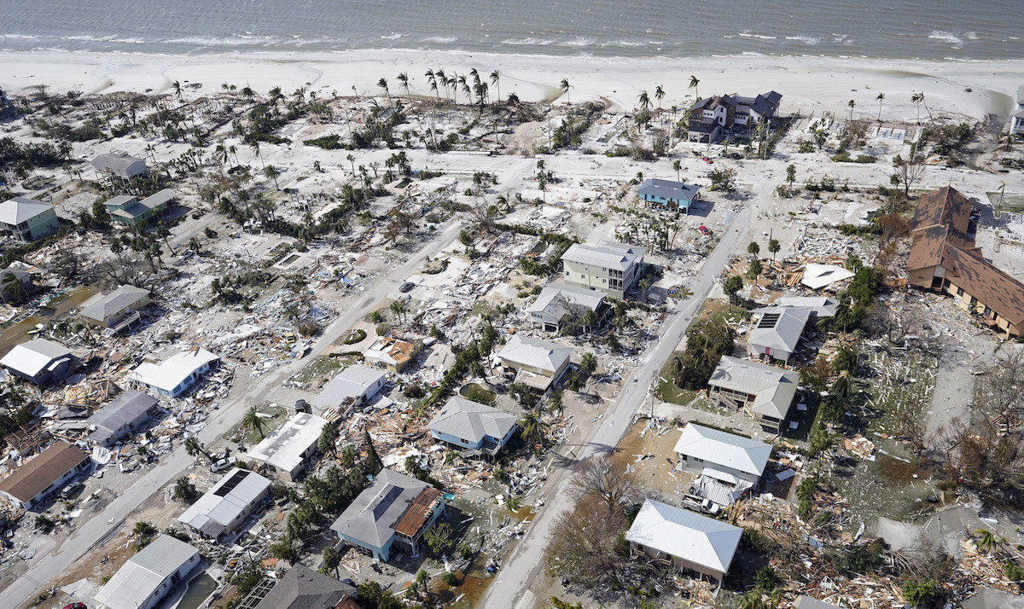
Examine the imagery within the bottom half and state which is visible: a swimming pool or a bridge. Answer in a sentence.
Visible within the bottom half is a swimming pool.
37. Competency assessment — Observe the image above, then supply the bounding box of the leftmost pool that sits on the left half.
[173,568,222,609]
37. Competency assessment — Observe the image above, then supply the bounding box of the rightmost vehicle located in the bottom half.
[682,493,720,512]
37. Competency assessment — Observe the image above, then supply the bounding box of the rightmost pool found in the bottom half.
[458,383,498,406]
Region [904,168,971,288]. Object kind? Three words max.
building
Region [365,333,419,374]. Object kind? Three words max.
house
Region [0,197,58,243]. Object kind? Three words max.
house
